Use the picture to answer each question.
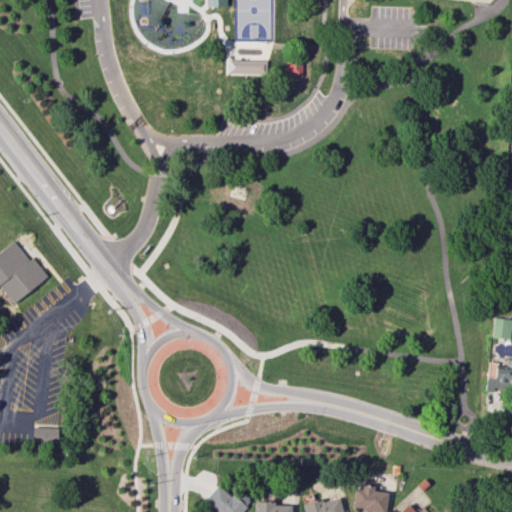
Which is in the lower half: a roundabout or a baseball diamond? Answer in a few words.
roundabout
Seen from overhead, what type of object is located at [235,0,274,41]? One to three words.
basketball court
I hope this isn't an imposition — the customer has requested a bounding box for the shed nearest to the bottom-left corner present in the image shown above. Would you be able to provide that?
[34,428,60,442]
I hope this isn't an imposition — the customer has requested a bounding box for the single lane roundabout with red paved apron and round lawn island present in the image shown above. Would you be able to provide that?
[136,302,308,463]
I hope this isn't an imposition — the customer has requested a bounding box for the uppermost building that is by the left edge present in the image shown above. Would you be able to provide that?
[0,242,50,303]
